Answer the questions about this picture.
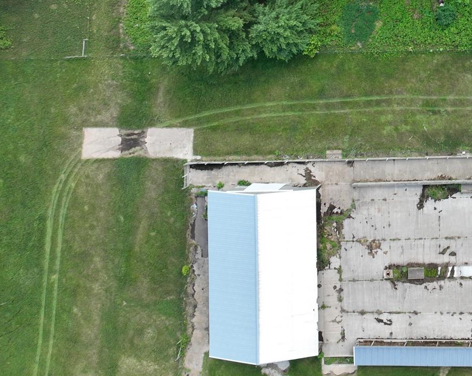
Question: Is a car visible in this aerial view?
No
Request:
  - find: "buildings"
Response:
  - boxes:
[352,339,472,369]
[207,180,324,366]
